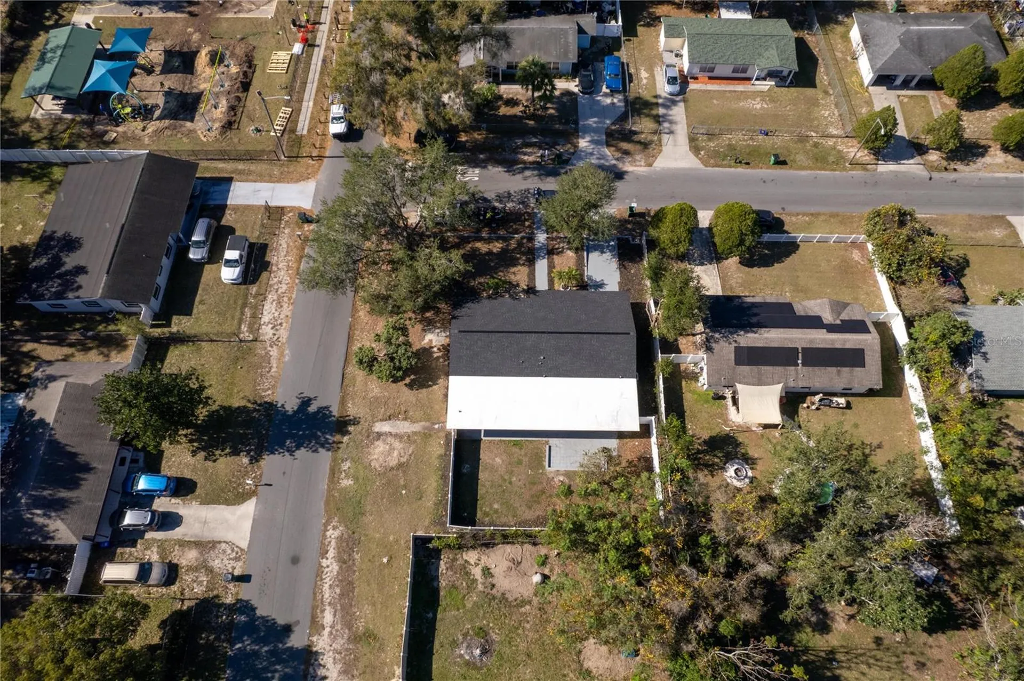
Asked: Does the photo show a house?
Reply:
Yes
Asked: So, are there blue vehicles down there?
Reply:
Yes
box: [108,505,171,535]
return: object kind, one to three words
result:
car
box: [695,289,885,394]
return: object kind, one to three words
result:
house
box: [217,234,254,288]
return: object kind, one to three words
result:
truck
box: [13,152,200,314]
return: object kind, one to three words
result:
house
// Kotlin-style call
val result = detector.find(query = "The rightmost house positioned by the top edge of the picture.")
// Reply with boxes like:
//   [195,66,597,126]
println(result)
[848,11,1007,90]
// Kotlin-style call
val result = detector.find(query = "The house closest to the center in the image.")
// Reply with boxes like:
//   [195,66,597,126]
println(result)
[446,291,642,440]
